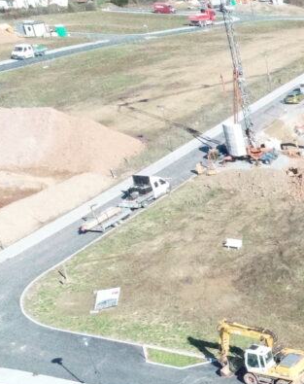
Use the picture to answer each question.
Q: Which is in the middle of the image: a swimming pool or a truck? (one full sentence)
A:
The one visible in the middle of the image is a truck.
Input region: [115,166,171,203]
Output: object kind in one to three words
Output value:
truck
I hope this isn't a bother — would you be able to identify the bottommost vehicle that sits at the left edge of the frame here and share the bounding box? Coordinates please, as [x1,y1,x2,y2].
[14,44,54,59]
